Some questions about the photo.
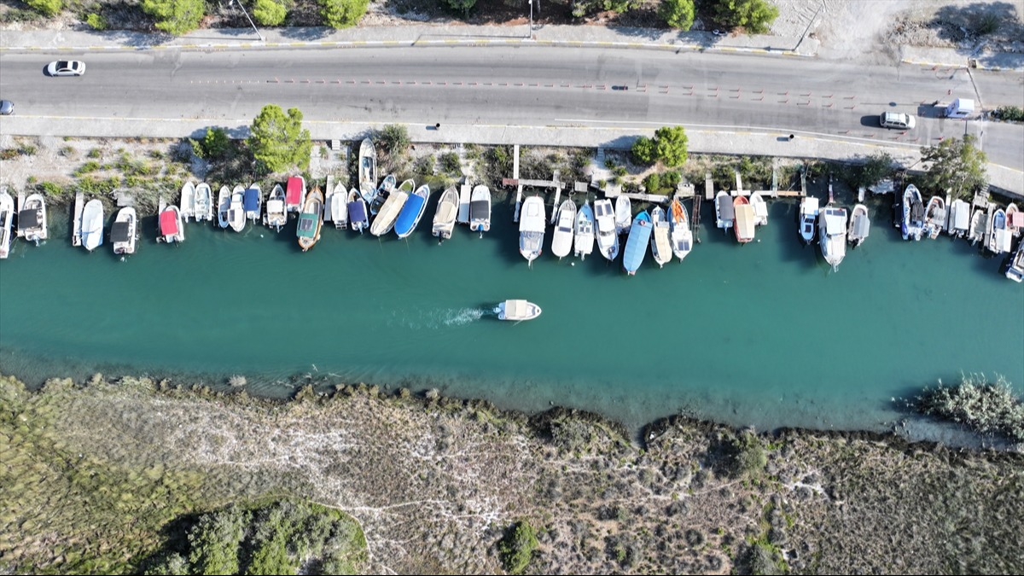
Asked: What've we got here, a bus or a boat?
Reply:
boat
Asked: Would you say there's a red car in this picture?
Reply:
No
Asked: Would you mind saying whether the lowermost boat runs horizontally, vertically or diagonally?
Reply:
horizontally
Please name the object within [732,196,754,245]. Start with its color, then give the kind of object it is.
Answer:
white boat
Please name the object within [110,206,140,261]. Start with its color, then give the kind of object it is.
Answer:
white boat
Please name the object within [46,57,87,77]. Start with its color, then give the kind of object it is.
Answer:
white car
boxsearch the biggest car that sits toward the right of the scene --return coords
[877,110,917,131]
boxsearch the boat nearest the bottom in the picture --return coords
[491,299,541,320]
